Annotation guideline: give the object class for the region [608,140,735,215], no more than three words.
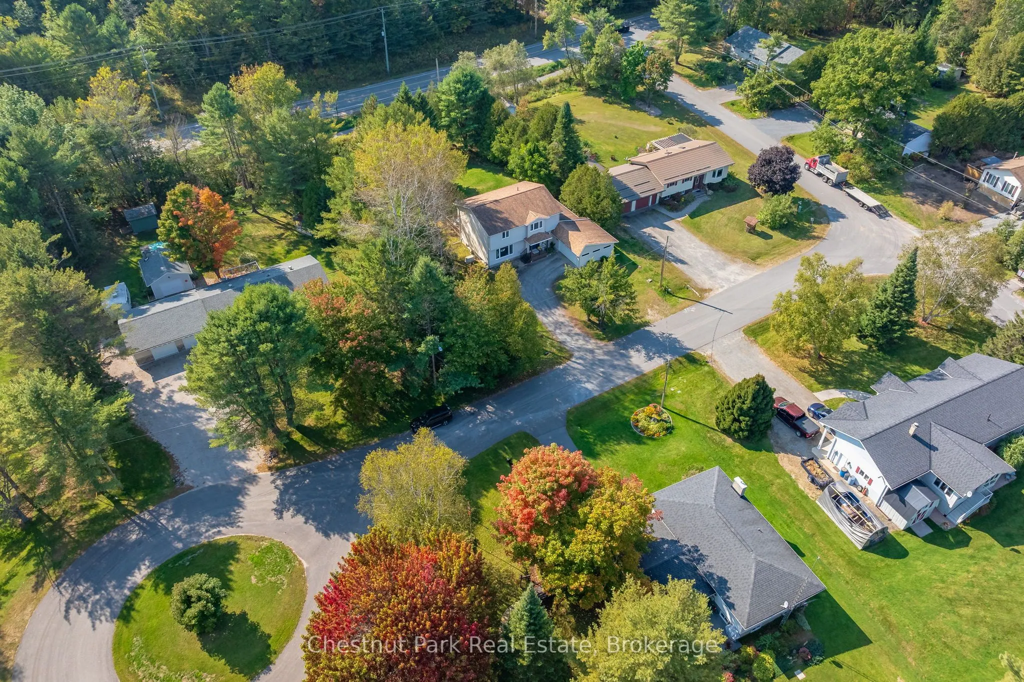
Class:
house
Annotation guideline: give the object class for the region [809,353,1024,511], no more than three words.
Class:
house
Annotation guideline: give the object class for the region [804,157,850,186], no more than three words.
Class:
truck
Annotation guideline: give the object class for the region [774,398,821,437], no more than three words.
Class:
truck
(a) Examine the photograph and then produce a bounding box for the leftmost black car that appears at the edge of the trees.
[410,404,455,434]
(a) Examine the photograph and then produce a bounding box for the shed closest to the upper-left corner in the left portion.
[124,205,160,233]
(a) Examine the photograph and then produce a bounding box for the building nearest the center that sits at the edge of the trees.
[452,183,619,269]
